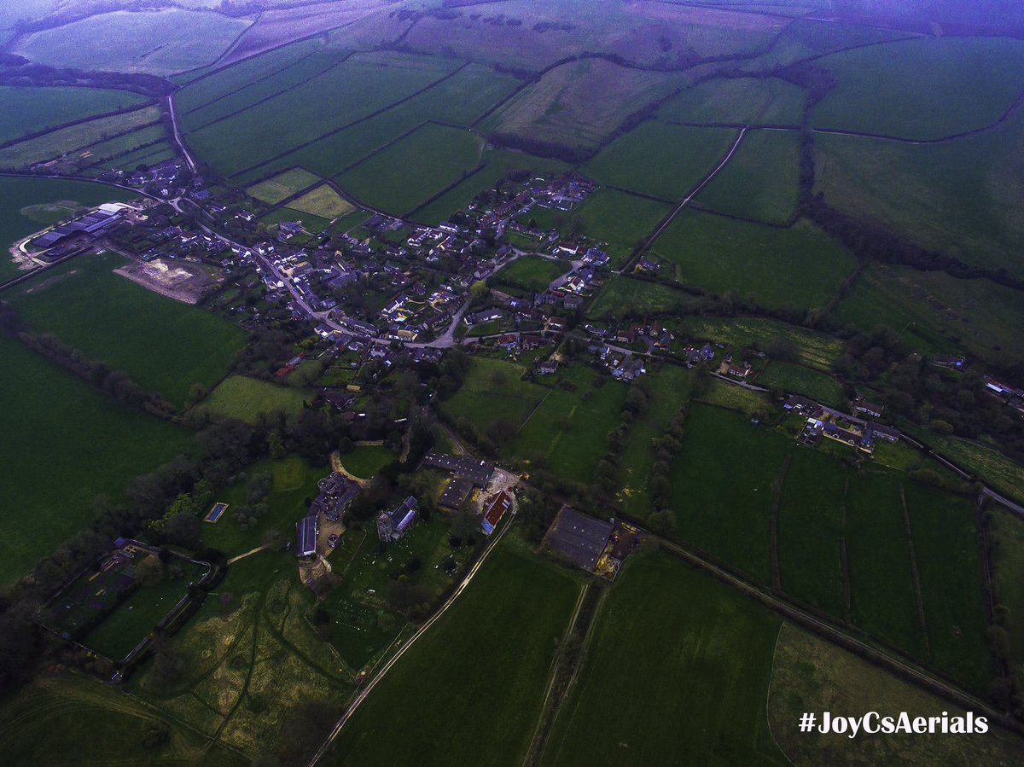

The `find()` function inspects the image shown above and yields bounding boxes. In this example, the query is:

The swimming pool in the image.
[204,503,228,522]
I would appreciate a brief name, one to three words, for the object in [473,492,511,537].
barn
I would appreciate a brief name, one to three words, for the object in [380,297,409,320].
house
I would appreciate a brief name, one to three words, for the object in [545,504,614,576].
barn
